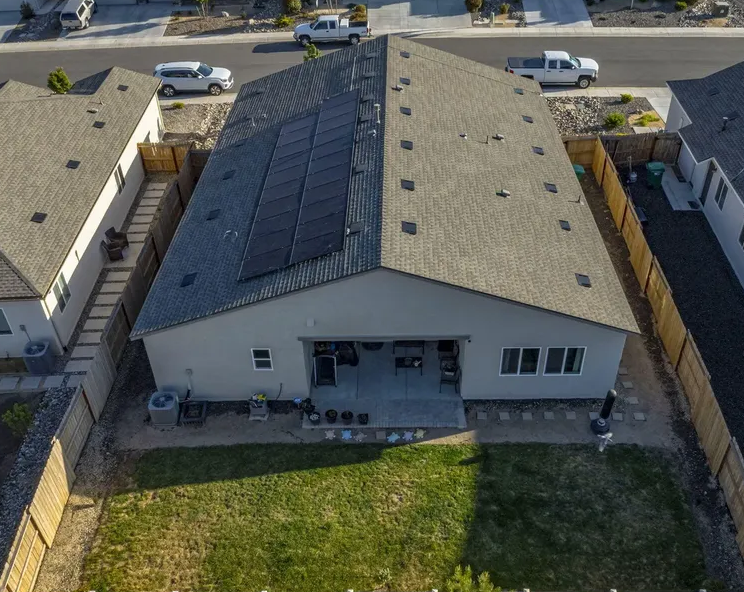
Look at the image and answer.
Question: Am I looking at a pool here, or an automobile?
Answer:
automobile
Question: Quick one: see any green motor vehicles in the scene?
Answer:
No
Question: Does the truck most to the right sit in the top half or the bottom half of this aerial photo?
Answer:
top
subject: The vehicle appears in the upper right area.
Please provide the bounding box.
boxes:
[503,49,600,87]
